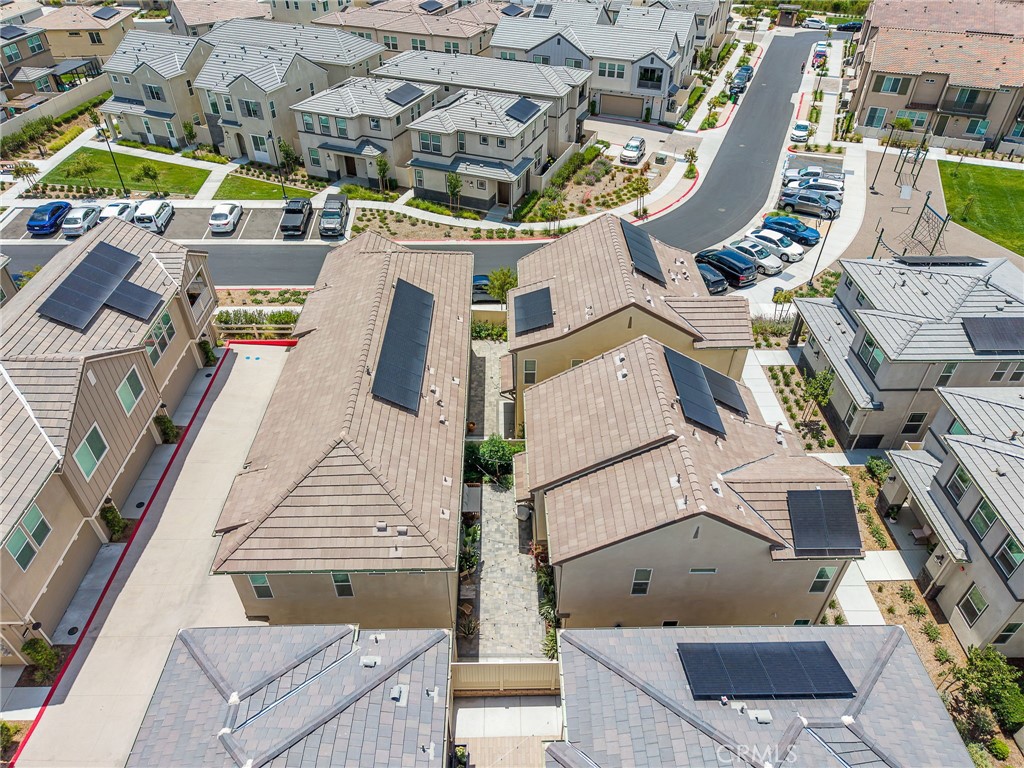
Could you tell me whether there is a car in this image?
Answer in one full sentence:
Yes, the frame does contain a car.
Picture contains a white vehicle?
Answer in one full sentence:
Yes, there is a white vehicle in the image.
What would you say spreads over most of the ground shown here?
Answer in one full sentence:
The largest share of the image is taken up by buildings.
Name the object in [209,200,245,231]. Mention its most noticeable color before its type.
white car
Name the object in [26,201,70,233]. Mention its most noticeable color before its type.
blue car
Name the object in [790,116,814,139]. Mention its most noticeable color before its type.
white car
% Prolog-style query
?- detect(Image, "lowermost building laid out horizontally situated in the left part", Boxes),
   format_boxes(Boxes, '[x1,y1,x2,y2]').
[117,621,452,768]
